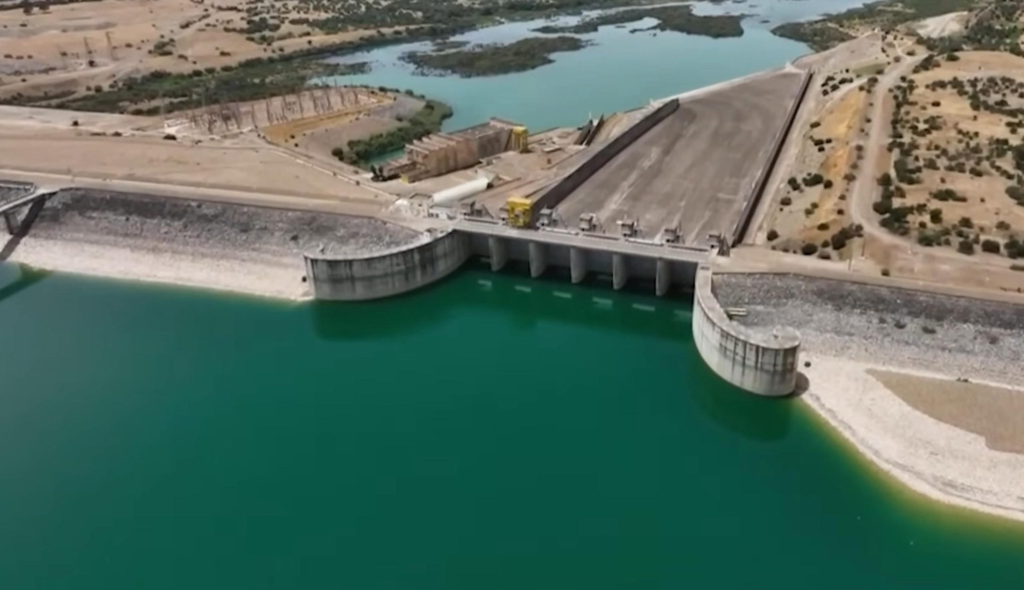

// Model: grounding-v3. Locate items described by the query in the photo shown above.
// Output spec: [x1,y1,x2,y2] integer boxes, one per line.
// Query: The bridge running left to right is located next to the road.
[457,215,703,297]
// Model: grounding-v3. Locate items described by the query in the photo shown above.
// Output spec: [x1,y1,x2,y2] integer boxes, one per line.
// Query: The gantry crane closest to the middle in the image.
[504,196,535,234]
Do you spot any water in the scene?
Yes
